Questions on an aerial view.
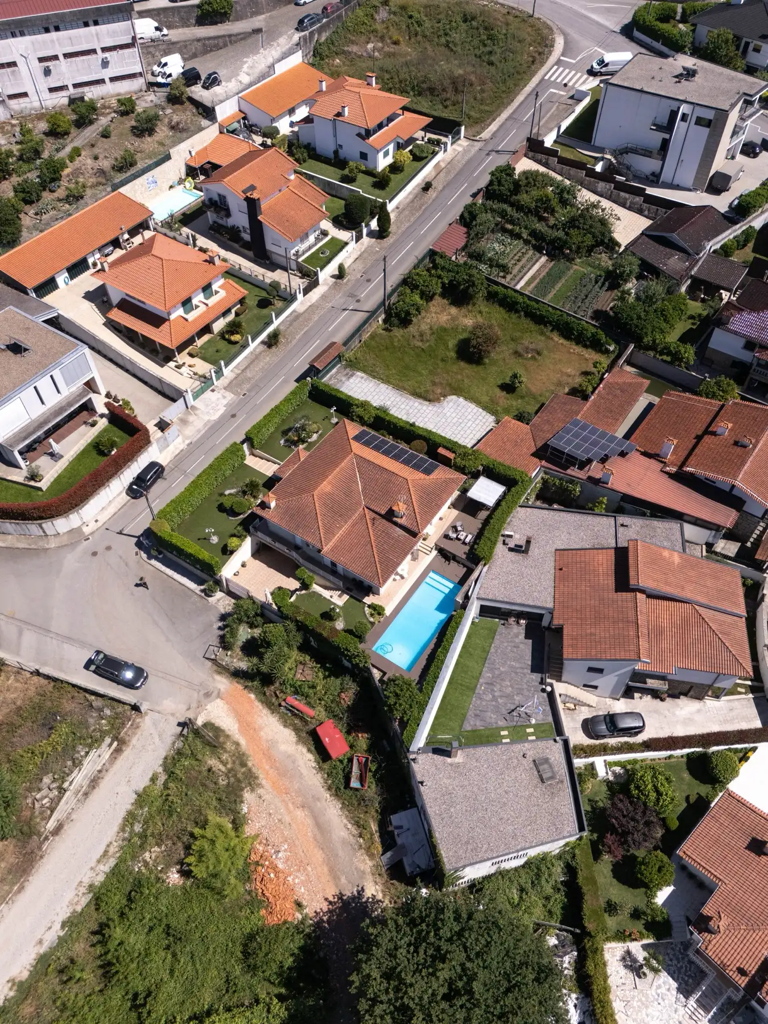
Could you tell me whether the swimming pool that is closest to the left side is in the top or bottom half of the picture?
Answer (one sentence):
The swimming pool that is closest to the left side is in the top half of the image.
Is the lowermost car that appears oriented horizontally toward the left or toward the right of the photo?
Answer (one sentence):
The lowermost car that appears oriented horizontally is on the right side of the image.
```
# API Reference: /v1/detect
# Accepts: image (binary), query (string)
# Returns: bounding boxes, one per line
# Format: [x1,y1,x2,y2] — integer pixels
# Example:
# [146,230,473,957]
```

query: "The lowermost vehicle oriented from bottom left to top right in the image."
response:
[122,457,169,497]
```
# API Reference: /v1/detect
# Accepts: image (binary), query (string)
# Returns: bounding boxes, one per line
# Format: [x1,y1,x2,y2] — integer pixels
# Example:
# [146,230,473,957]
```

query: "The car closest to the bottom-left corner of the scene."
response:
[82,647,149,692]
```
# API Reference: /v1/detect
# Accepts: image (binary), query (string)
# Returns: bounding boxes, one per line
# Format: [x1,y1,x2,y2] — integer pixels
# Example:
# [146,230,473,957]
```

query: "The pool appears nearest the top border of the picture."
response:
[147,185,204,226]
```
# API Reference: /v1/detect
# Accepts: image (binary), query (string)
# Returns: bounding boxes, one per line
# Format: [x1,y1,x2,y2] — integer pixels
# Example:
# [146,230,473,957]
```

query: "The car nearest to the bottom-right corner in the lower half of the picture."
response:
[587,712,650,743]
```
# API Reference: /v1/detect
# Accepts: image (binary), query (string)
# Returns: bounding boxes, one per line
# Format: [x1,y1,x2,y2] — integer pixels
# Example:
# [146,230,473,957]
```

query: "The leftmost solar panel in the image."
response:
[1,329,29,354]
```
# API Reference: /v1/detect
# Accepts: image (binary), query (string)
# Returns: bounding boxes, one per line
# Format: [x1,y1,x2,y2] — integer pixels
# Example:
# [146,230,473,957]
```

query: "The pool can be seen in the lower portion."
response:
[370,568,478,676]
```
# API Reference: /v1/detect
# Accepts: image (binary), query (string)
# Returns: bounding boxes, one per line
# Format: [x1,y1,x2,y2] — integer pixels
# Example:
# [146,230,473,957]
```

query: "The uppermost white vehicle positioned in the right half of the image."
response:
[595,45,640,72]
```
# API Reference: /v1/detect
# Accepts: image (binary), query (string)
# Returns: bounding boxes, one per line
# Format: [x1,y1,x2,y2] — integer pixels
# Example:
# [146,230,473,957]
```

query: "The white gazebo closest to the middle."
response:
[464,477,507,524]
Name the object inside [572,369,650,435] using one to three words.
shed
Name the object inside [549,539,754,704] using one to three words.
house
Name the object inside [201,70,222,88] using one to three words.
car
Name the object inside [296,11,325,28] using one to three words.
car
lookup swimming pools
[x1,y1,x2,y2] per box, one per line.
[147,185,204,226]
[370,568,478,676]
